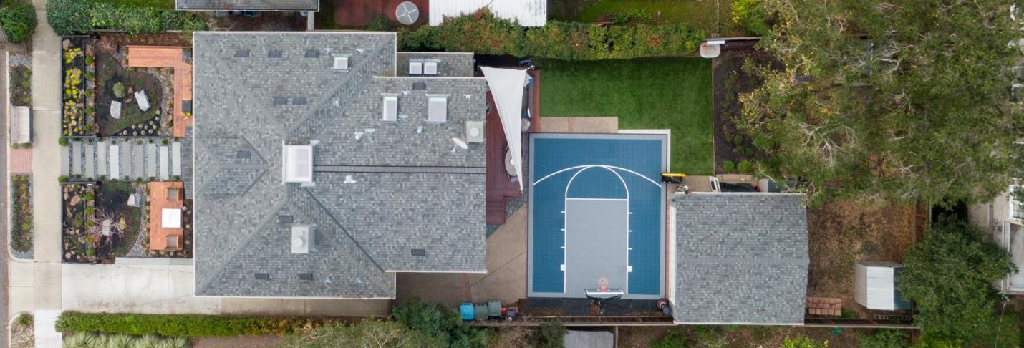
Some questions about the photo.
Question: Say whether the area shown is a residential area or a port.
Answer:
residential area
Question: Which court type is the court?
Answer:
basketball court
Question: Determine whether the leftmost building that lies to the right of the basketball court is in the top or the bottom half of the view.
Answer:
bottom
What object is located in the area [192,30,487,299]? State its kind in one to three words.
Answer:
house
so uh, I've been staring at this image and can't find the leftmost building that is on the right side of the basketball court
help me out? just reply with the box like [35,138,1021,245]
[669,191,812,326]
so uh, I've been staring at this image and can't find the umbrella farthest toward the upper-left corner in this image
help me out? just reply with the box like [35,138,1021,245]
[395,1,420,25]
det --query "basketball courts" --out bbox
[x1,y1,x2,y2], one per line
[528,134,670,299]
